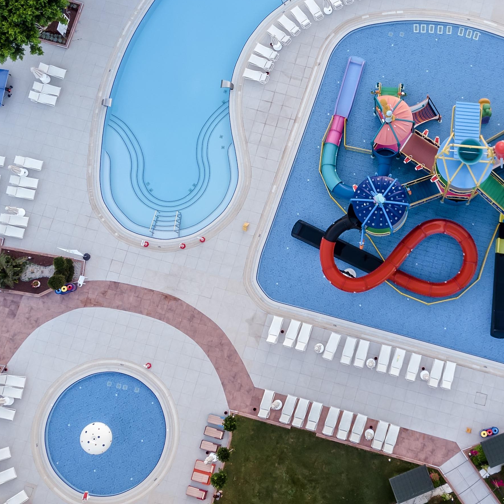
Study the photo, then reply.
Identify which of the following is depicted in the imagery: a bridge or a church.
bridge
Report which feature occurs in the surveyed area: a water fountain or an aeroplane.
water fountain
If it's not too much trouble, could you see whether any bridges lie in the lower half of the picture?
No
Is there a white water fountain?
Yes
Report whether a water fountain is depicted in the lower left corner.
Yes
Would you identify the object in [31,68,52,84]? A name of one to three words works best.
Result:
umbrella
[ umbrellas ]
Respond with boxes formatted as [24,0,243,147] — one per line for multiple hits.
[365,358,375,368]
[314,343,324,353]
[364,429,374,439]
[323,0,333,17]
[8,165,29,177]
[420,370,430,380]
[31,68,52,84]
[271,36,282,52]
[4,206,26,216]
[271,399,282,410]
[0,396,15,407]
